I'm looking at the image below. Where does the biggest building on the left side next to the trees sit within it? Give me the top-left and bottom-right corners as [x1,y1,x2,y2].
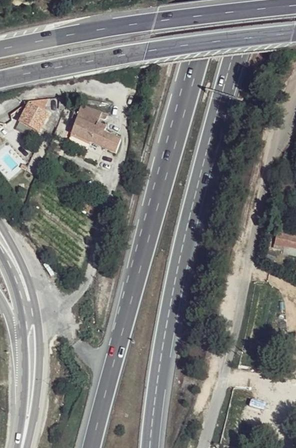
[70,106,121,154]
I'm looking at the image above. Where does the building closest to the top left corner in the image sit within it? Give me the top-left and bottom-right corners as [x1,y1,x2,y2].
[16,100,52,134]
